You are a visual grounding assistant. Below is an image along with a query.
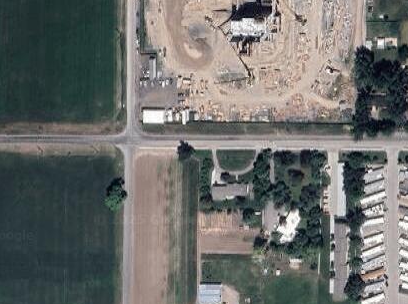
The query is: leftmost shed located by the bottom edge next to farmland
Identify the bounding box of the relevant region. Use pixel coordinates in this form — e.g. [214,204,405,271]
[200,283,222,303]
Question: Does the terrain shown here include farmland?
Yes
